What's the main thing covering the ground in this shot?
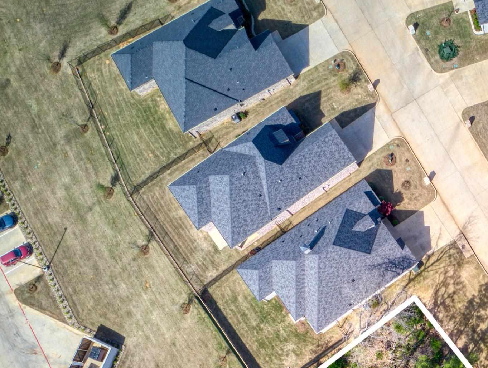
grass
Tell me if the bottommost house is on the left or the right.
right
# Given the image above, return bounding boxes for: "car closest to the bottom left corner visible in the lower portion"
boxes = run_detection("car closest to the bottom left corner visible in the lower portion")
[0,241,33,266]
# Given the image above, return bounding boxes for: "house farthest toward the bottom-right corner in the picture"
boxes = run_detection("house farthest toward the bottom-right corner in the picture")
[236,179,419,334]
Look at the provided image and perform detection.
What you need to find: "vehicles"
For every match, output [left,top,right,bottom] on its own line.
[0,209,18,229]
[0,241,33,266]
